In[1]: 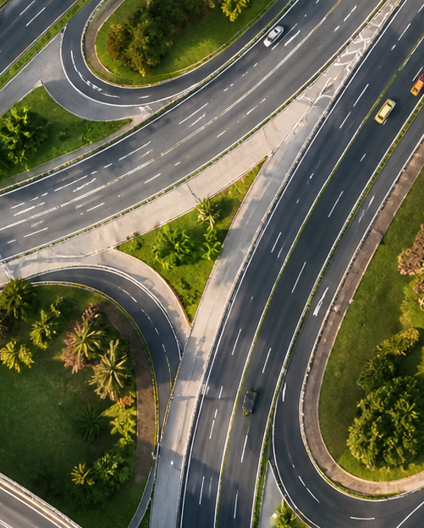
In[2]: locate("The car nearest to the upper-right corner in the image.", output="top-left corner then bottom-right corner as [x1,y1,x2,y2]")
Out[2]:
[410,72,424,96]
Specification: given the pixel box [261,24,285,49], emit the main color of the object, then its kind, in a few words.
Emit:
white car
